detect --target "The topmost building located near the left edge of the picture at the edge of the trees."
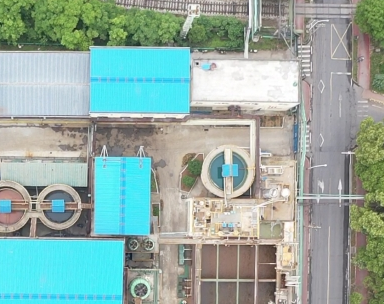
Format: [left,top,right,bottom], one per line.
[0,50,90,118]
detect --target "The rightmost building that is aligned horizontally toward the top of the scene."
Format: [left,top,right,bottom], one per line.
[190,59,299,110]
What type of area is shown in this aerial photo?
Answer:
industrial area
